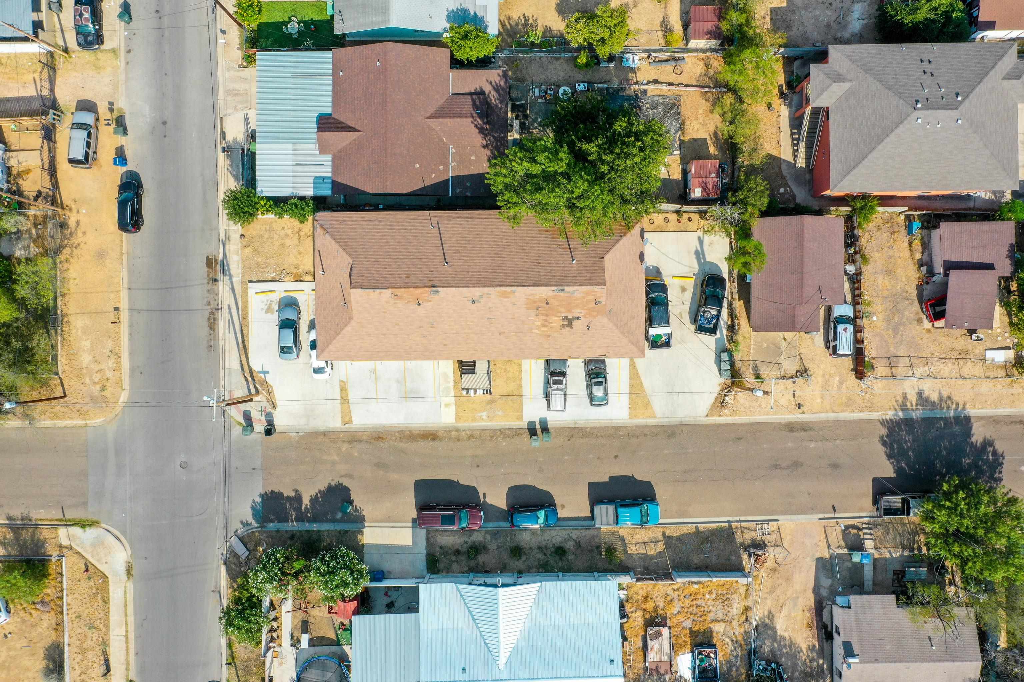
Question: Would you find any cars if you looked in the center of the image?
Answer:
Yes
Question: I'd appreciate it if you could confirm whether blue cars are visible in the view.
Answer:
Yes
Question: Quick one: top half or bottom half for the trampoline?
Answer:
bottom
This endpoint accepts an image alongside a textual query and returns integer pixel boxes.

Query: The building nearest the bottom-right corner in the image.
[825,595,982,682]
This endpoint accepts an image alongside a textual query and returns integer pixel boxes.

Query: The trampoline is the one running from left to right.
[295,660,350,682]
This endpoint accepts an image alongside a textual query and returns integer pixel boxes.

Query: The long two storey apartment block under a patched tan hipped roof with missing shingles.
[314,211,669,361]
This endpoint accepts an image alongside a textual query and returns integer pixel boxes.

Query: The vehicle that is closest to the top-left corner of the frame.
[73,0,105,45]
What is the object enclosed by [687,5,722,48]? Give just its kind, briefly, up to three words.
shed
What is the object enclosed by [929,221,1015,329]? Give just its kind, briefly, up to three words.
house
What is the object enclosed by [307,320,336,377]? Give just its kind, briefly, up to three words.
car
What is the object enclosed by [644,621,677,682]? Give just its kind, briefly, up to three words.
trailer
